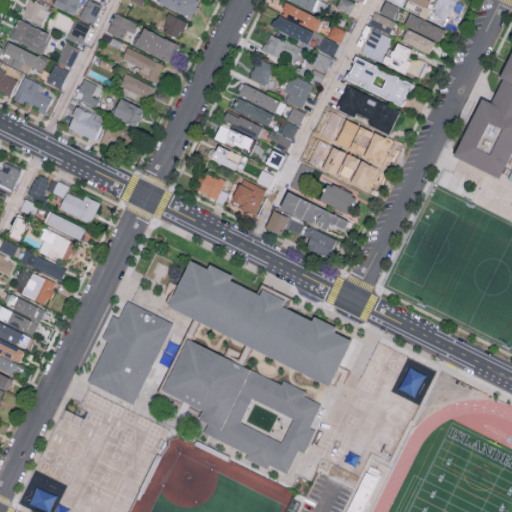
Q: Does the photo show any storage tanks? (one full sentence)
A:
No, there appears to be no storage tank in this shot.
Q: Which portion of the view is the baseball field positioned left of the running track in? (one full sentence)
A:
The baseball field positioned left of the running track appears toward the bottom of the photo.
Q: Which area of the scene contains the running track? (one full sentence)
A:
The running track sits in the bottom right section of the image.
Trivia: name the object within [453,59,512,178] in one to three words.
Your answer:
building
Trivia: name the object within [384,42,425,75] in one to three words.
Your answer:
house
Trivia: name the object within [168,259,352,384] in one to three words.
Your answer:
building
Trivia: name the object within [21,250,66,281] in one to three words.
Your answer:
house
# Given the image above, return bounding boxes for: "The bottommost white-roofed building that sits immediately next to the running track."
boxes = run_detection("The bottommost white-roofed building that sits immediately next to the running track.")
[347,467,382,512]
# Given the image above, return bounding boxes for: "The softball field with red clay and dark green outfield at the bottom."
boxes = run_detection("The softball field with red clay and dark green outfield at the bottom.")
[132,434,295,512]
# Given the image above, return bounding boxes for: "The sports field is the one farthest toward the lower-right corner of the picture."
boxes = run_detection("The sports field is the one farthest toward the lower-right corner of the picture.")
[390,418,512,512]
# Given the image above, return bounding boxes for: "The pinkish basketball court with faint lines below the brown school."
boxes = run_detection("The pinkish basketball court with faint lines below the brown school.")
[465,170,512,219]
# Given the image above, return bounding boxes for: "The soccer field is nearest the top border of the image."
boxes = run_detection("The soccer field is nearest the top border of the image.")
[385,184,512,349]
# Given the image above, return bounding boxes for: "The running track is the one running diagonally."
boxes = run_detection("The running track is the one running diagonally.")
[373,399,512,512]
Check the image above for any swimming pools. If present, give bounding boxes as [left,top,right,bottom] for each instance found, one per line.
[88,69,110,84]
[24,235,41,250]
